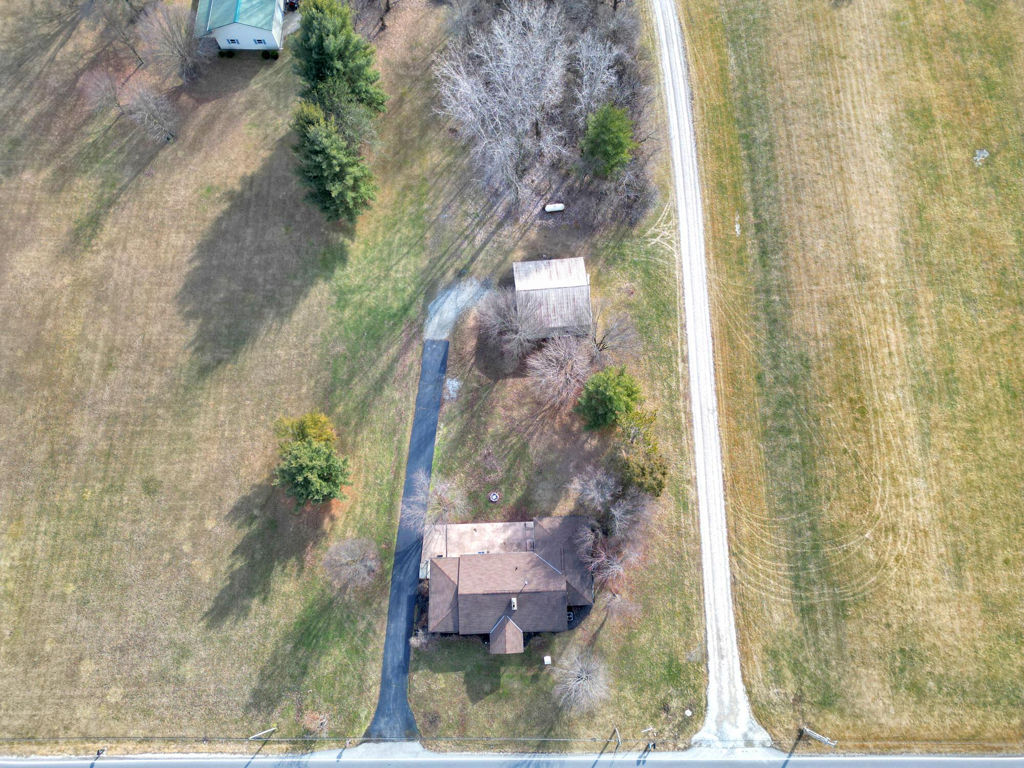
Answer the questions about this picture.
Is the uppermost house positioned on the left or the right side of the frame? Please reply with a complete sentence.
It is on the left.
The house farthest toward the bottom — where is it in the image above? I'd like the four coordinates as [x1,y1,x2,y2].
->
[428,515,594,654]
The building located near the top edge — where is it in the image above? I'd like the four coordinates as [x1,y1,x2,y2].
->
[193,0,284,51]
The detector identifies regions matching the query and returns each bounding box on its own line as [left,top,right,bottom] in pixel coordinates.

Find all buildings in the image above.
[193,0,284,51]
[513,258,591,345]
[428,515,594,654]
